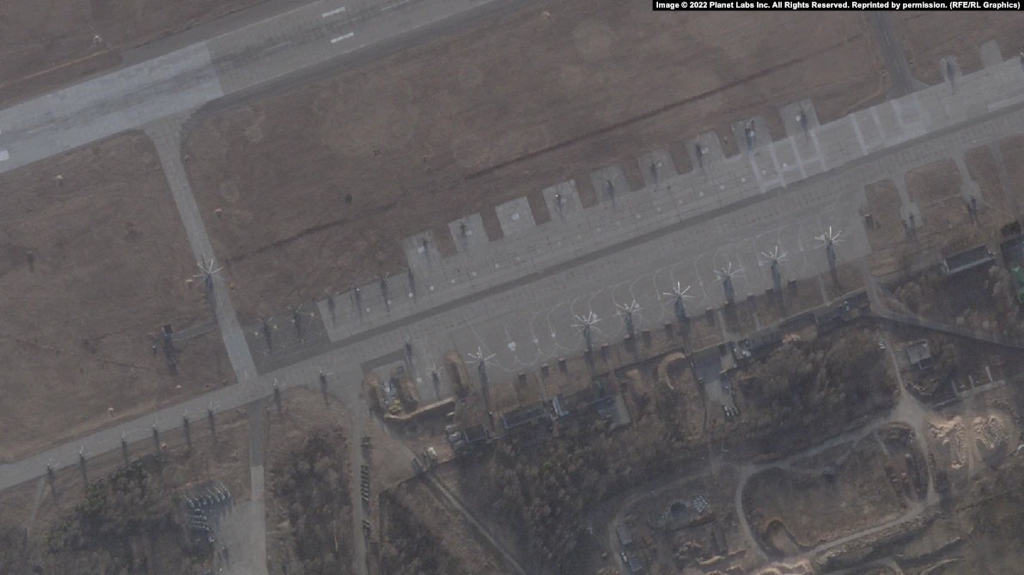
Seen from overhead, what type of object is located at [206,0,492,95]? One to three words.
runway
